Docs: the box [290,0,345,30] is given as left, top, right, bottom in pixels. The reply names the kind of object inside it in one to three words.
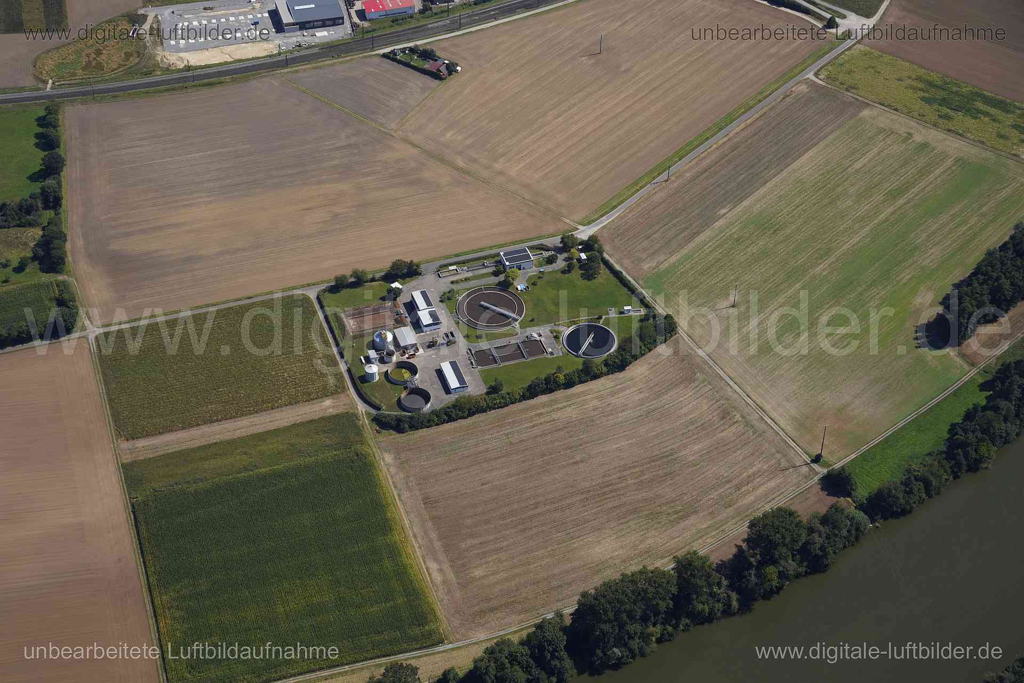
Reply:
building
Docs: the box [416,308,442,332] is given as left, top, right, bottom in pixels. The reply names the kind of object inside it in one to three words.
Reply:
building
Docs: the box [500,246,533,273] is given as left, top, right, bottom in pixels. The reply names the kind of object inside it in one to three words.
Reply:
house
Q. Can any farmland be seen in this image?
Yes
